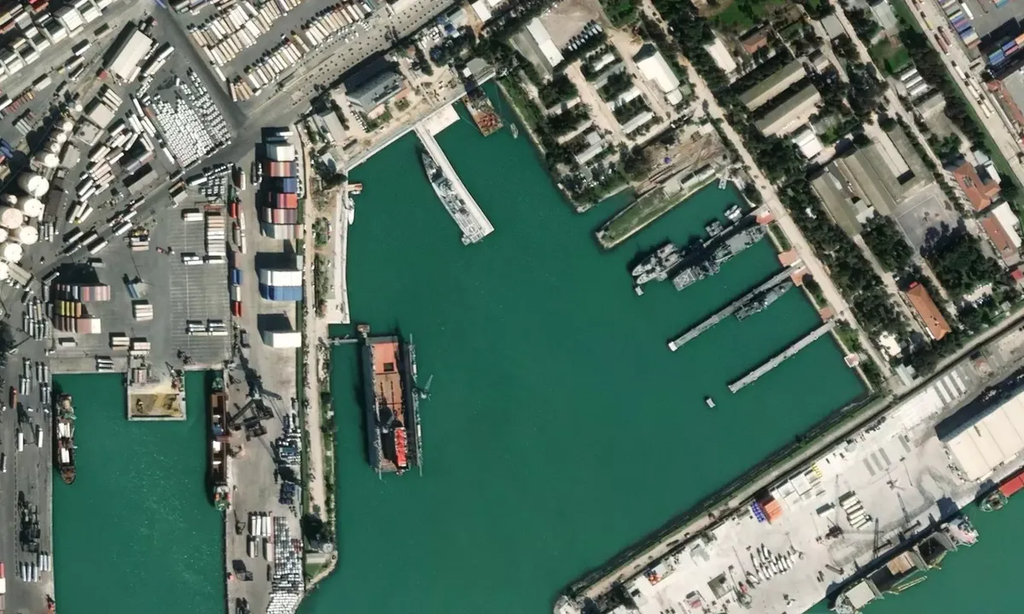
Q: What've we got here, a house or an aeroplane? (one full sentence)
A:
Looking from above, you can make out a house.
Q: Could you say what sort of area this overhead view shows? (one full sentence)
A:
This looks like a port.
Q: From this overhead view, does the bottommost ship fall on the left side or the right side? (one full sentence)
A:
The bottommost ship appears in the right half of the scene.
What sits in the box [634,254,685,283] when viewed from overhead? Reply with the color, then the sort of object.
gray ship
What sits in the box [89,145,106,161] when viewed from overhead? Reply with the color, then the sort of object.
white vehicle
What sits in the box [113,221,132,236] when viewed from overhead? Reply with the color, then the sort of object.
white vehicle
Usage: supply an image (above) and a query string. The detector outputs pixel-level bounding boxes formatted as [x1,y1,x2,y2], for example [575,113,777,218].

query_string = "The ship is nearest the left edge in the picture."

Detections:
[52,391,83,484]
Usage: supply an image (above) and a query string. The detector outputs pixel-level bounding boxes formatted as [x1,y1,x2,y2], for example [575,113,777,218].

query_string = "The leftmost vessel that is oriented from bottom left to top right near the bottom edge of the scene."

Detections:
[825,514,985,613]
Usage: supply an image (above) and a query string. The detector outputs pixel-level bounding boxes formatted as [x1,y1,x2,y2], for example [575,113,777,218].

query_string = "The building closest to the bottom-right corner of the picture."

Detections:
[940,389,1024,481]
